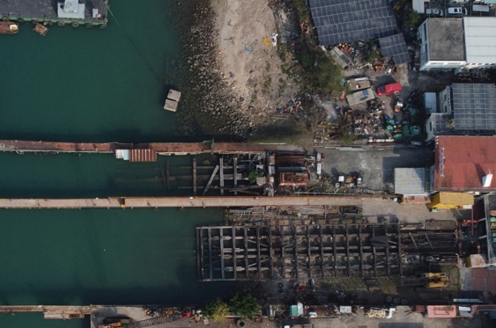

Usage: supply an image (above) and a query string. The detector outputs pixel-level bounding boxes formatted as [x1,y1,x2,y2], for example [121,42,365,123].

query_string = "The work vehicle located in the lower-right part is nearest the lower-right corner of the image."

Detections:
[413,274,449,291]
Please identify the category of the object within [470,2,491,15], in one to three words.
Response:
vehicle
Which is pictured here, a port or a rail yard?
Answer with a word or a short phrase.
port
